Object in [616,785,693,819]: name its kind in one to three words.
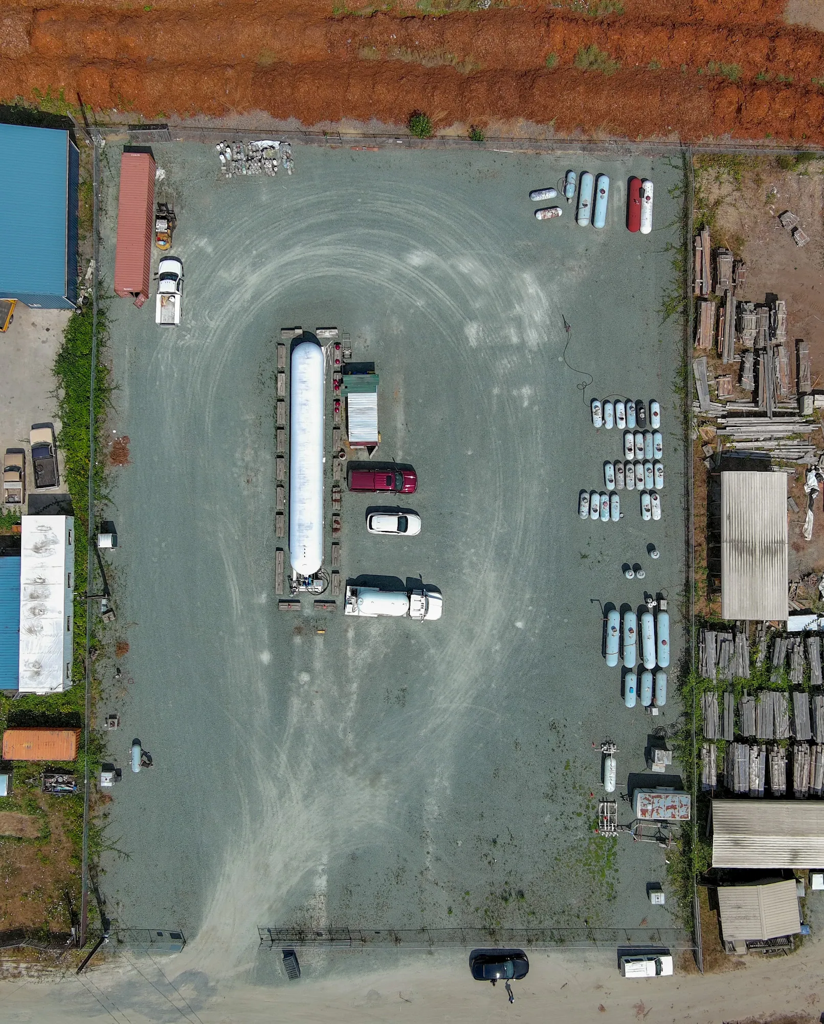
trailer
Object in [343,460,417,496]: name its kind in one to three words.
truck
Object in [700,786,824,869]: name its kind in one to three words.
shed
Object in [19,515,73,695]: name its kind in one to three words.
house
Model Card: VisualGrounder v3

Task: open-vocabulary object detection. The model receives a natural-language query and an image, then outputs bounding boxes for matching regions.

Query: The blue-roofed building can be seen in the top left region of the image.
[0,121,80,308]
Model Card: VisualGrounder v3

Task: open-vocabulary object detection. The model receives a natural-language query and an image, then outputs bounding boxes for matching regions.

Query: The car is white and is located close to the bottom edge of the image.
[619,952,672,981]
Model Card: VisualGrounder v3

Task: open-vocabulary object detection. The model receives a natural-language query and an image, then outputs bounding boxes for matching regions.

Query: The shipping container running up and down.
[114,152,156,305]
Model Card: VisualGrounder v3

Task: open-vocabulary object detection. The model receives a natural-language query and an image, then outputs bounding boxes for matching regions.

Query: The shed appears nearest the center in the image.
[341,374,378,451]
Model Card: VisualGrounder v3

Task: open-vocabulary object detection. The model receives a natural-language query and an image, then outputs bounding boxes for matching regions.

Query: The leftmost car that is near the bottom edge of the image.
[470,952,529,983]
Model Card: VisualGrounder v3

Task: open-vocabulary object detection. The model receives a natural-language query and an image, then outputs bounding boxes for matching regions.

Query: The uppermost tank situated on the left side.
[291,342,329,598]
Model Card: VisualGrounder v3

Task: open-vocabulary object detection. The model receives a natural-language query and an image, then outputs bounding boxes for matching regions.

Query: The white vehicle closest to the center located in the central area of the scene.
[367,510,422,538]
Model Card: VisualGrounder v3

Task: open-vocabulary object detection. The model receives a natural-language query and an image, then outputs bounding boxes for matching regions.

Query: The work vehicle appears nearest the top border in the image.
[155,207,173,252]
